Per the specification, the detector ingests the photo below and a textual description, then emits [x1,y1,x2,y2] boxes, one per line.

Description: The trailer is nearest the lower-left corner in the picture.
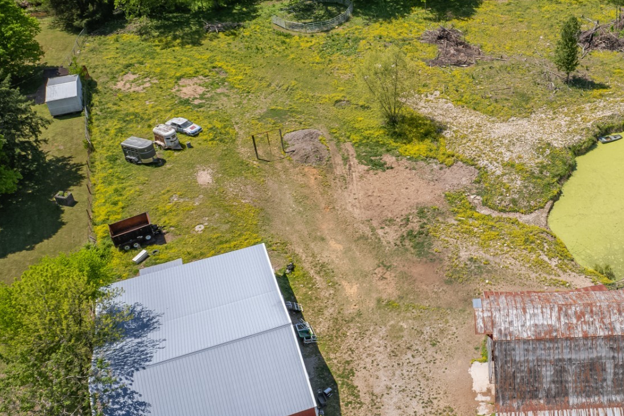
[108,213,170,247]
